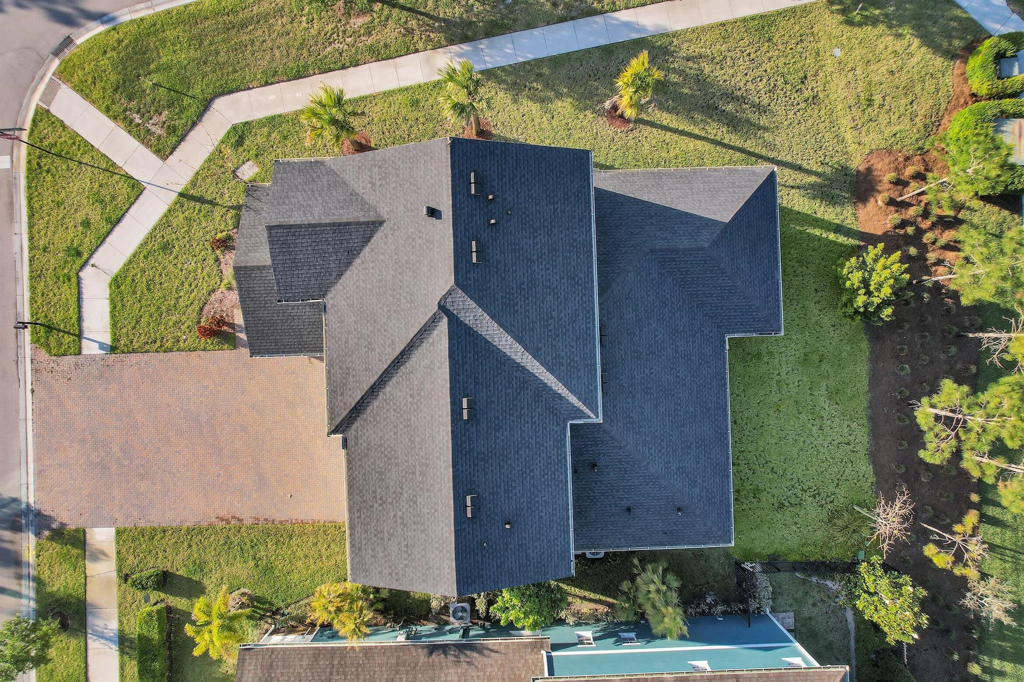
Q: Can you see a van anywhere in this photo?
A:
No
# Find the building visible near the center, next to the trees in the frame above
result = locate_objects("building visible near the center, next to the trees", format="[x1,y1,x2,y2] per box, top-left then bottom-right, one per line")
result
[232,137,787,597]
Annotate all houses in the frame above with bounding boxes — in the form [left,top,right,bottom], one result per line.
[230,614,850,682]
[232,137,787,597]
